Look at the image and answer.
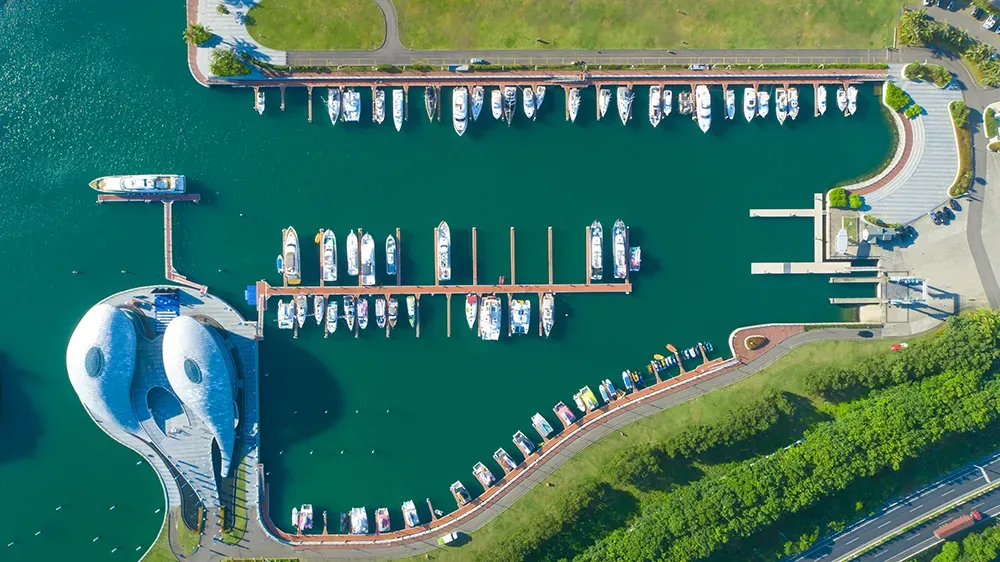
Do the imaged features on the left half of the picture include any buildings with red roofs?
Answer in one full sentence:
No, no building with a red roof appears on the left half of the picture.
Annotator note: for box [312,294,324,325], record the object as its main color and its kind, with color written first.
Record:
white boat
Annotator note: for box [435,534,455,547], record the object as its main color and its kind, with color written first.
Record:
white vehicle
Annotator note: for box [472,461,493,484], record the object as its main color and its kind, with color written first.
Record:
white boat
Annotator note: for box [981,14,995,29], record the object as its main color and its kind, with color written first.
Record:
white vehicle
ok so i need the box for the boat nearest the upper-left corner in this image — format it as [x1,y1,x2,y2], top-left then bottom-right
[87,175,188,194]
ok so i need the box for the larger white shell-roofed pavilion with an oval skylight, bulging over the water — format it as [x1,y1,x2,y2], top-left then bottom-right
[65,303,153,444]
